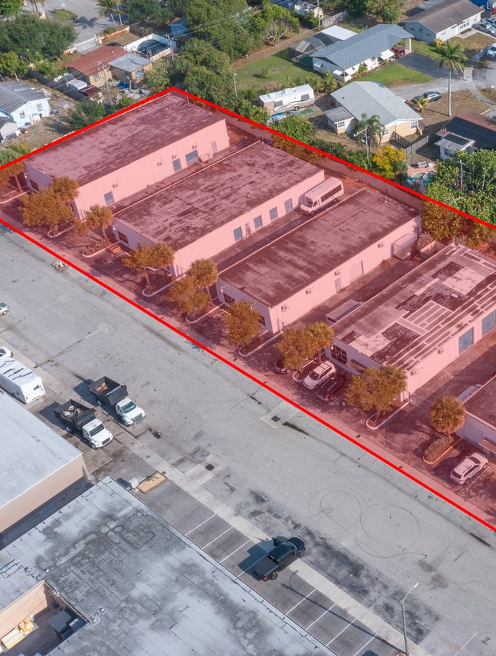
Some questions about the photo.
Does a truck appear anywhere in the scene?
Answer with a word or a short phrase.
Yes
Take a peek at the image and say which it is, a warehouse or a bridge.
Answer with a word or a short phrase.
warehouse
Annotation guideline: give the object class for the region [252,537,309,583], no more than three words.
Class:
truck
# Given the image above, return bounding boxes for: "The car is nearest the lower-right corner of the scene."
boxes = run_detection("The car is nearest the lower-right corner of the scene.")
[450,452,490,485]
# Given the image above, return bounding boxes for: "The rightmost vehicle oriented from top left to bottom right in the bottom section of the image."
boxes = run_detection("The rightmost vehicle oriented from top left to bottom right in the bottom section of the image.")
[83,375,144,427]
